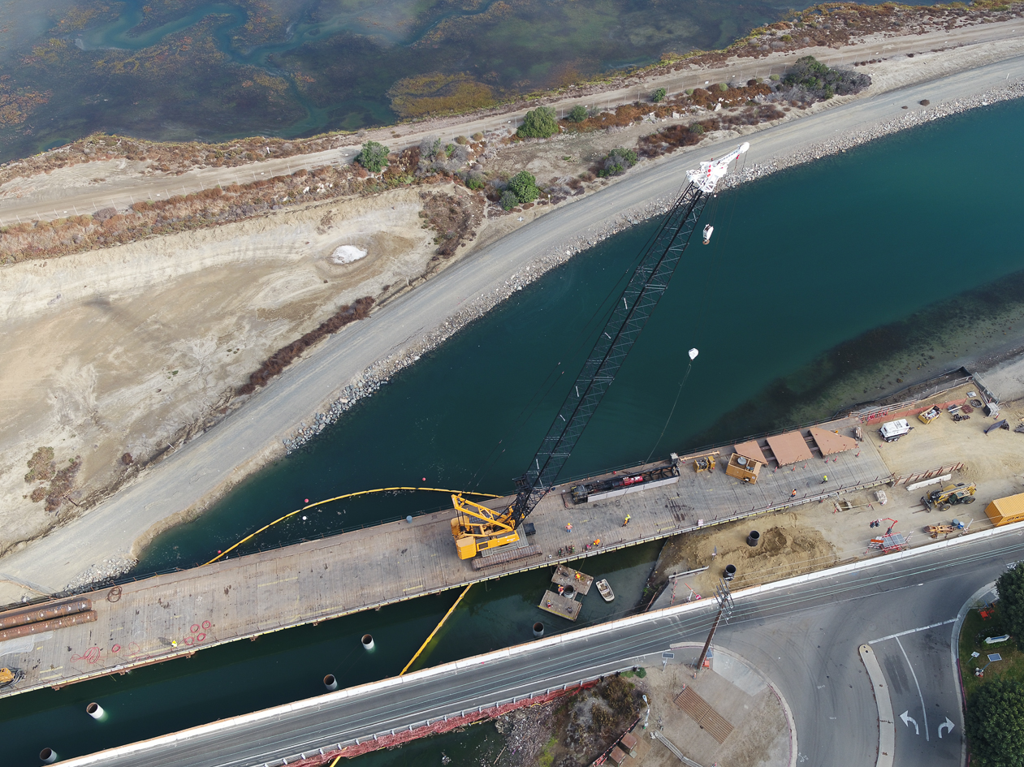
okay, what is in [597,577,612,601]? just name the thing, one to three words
boat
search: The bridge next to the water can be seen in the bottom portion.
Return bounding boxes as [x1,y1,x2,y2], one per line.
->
[30,562,853,767]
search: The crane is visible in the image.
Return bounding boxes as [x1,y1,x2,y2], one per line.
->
[450,138,752,572]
